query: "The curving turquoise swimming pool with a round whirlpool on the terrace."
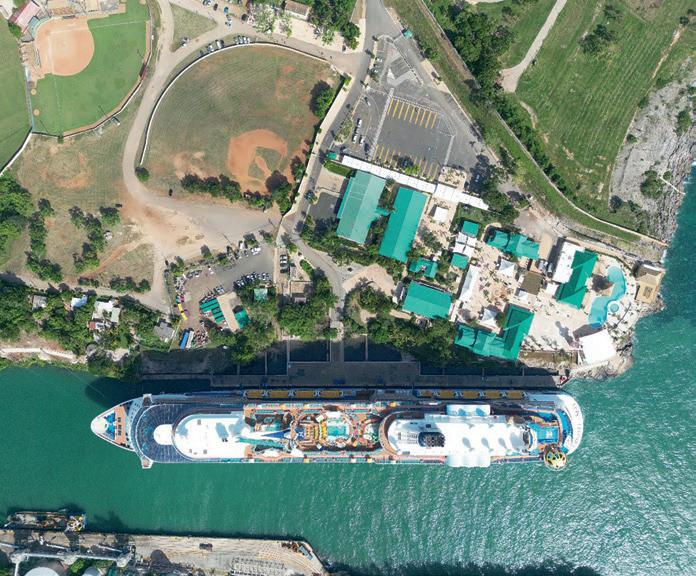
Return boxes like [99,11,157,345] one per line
[588,265,627,328]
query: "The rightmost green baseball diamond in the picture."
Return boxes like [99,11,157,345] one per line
[30,0,150,135]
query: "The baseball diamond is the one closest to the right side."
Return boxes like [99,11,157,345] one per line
[140,44,343,206]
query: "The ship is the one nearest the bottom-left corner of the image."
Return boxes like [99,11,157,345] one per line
[5,509,88,530]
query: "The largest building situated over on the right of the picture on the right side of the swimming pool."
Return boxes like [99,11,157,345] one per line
[633,263,666,303]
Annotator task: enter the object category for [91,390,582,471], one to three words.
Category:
ship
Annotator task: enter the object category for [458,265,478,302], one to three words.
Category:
tent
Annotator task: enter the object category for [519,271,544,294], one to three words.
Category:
building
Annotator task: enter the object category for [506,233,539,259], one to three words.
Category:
building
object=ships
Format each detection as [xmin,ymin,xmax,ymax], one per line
[91,390,582,471]
[5,509,88,530]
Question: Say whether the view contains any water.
Yes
